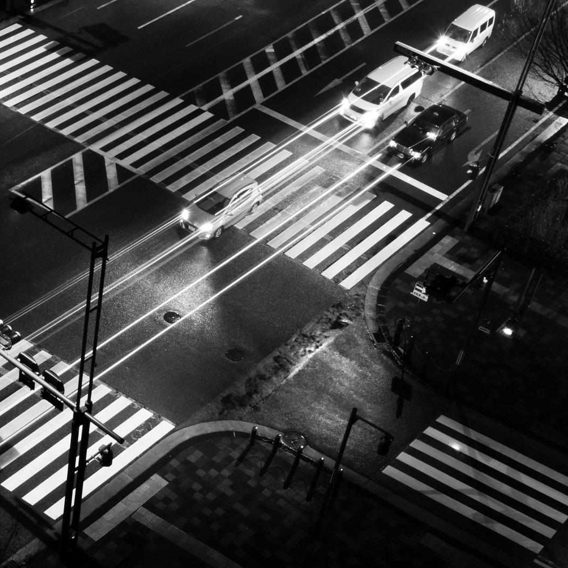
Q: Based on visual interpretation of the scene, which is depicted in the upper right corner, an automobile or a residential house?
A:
automobile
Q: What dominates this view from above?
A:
paved ground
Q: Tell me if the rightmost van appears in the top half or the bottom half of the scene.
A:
top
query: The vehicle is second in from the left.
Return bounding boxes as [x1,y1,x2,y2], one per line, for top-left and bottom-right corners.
[332,53,420,126]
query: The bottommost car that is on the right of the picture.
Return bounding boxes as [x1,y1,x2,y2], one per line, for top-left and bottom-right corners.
[383,95,469,161]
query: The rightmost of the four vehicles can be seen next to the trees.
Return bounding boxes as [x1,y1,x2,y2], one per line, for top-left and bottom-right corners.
[430,0,505,58]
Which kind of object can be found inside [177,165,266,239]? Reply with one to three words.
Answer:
car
